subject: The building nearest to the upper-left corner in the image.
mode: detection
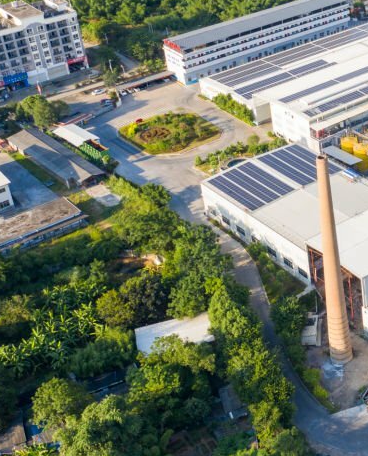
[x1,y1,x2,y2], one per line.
[0,0,88,94]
